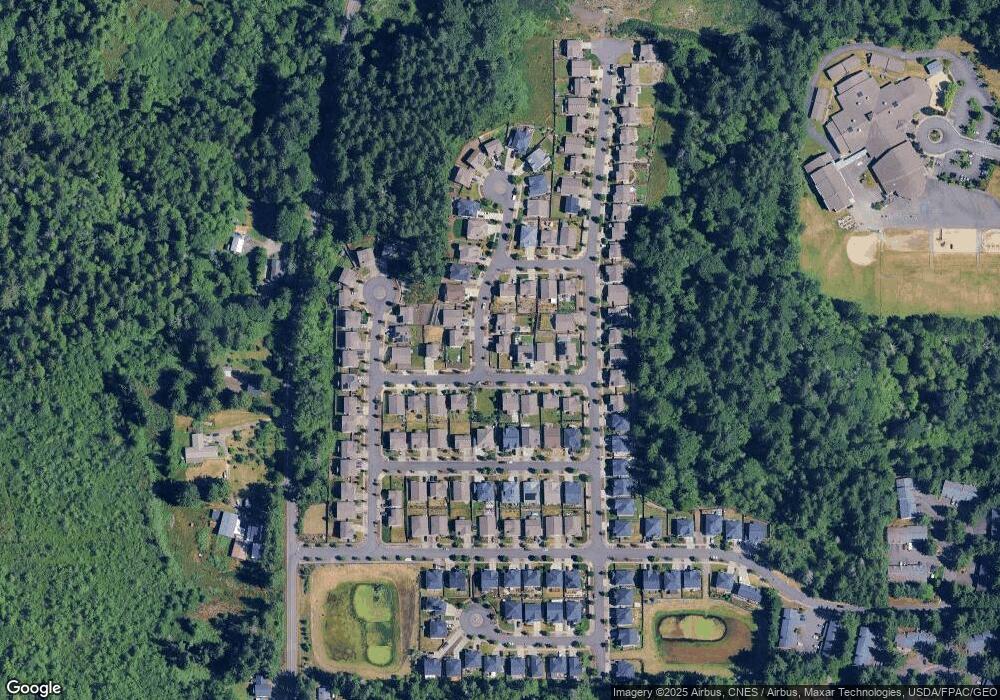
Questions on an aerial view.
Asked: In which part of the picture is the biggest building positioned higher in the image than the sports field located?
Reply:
top right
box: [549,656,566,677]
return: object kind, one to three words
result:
house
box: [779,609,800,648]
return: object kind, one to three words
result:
building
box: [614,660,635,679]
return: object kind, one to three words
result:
house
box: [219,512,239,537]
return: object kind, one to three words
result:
barn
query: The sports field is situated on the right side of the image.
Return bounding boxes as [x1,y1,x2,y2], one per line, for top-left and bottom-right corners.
[847,233,880,266]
